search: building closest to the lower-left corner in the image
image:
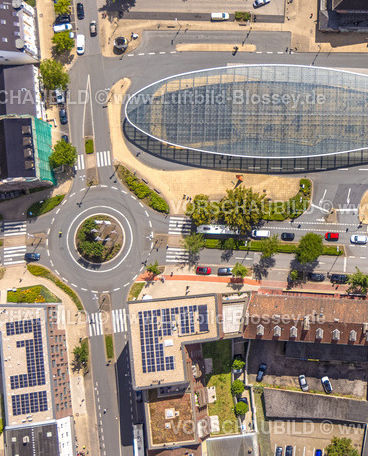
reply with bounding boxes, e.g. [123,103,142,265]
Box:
[7,421,75,456]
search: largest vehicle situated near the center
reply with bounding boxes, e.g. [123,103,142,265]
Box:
[195,224,241,237]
